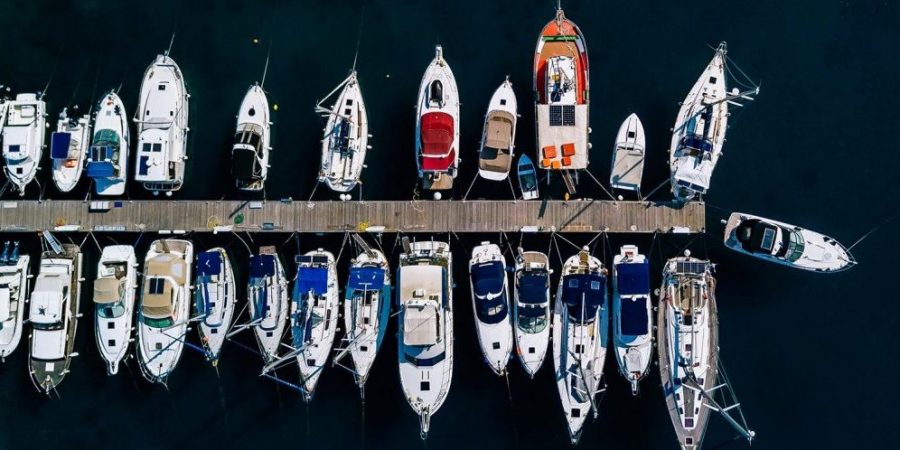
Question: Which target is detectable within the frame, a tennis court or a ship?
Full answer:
Visible in the photo is a ship.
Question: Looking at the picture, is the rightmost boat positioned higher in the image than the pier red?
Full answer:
No, the rightmost boat positioned higher in the image than the pier is actually white.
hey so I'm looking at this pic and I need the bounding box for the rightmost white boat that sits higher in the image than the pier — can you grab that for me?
[664,42,759,204]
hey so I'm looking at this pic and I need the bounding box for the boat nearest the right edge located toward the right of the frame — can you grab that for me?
[719,214,861,272]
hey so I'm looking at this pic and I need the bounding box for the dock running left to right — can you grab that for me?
[0,201,706,233]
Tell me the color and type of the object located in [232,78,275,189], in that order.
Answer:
white boat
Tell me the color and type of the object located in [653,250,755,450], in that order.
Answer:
gray boat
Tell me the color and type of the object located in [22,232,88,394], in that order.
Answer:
white boat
